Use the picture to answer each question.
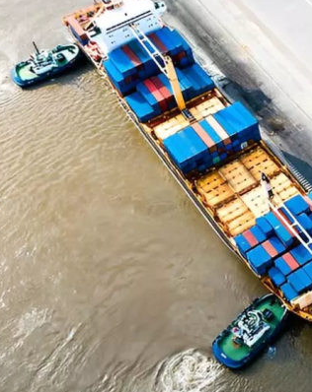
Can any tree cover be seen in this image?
No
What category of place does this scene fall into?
port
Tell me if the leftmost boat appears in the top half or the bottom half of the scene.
top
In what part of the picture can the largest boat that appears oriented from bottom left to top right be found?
bottom right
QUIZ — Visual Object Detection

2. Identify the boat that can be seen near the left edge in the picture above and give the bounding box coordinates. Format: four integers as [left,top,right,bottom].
[2,42,81,88]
